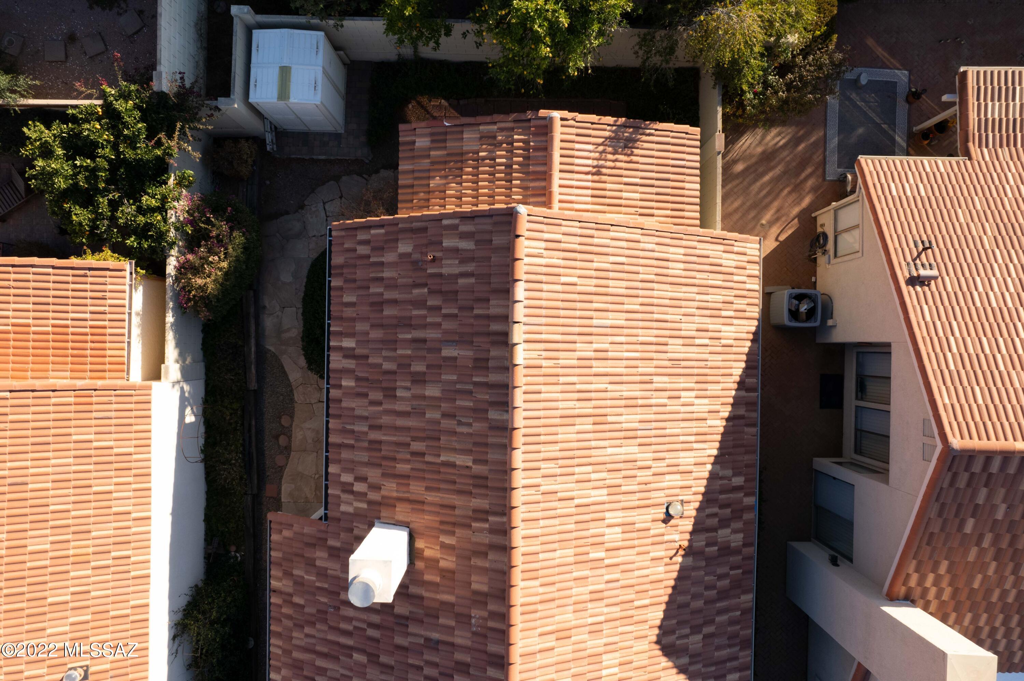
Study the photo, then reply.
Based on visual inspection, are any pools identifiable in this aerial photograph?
No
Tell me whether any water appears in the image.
No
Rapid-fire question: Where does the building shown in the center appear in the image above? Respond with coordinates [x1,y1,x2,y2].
[265,108,763,681]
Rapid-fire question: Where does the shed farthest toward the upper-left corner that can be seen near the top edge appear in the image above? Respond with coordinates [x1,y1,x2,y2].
[247,28,344,131]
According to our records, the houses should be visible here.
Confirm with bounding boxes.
[0,258,203,681]
[265,108,763,681]
[786,63,1024,681]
